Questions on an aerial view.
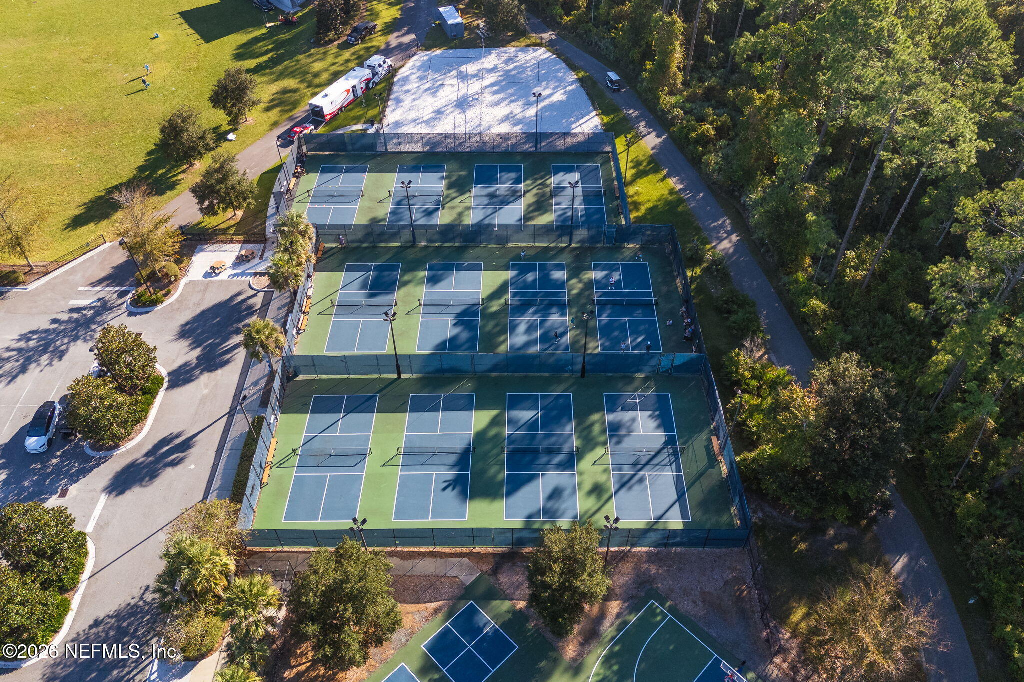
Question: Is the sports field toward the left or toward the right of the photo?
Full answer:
The sports field is on the left side of the image.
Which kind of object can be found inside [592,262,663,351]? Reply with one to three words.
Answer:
sports court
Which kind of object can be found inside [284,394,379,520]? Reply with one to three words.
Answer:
sports court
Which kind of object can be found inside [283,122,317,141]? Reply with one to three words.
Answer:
car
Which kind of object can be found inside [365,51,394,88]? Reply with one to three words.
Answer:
truck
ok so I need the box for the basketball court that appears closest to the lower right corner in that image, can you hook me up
[590,601,753,682]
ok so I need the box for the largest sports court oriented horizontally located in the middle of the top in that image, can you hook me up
[378,47,611,152]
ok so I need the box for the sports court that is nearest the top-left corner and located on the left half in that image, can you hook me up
[304,165,369,224]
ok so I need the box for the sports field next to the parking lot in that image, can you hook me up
[0,0,404,269]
